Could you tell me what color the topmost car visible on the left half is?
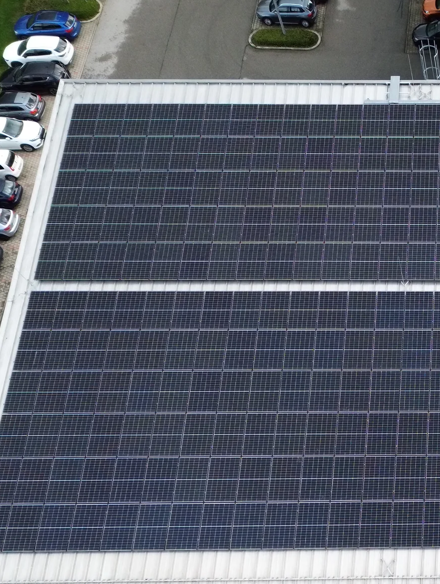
blue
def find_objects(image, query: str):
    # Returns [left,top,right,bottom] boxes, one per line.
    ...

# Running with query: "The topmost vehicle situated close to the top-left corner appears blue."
[12,2,85,39]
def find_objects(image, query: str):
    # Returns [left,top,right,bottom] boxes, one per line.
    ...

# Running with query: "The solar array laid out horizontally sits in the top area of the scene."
[34,103,440,281]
